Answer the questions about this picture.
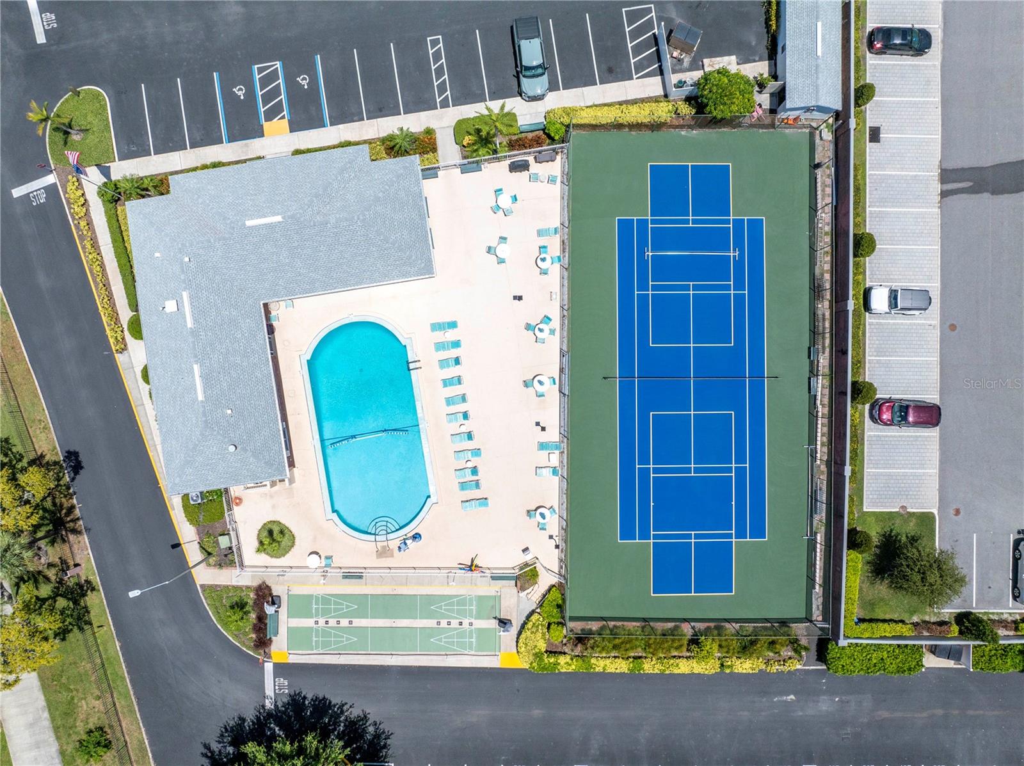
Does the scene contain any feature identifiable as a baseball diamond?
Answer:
No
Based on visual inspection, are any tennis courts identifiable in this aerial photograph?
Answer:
Yes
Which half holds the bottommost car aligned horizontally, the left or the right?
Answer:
right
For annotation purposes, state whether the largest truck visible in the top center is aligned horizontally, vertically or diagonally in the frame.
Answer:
vertically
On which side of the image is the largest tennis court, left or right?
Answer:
right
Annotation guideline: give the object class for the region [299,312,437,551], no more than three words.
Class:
swimming pool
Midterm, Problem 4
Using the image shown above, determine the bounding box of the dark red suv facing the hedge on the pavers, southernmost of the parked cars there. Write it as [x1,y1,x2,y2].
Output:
[869,397,944,429]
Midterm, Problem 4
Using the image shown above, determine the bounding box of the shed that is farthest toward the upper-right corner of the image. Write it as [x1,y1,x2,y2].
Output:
[777,0,842,120]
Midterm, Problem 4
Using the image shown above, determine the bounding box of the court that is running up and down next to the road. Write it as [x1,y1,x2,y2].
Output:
[568,129,817,623]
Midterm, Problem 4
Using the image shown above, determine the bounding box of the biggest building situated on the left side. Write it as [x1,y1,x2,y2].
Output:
[125,144,438,495]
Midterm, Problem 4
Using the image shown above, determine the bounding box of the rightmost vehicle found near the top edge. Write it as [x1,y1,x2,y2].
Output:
[867,23,931,58]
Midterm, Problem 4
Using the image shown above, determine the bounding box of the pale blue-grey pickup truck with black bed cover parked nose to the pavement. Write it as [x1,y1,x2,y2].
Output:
[515,17,550,103]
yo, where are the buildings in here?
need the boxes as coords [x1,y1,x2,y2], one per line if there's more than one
[777,0,842,120]
[125,144,438,495]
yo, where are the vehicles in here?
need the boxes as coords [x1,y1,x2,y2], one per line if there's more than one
[515,17,550,103]
[867,23,931,58]
[1015,541,1024,604]
[867,283,935,315]
[869,397,944,429]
